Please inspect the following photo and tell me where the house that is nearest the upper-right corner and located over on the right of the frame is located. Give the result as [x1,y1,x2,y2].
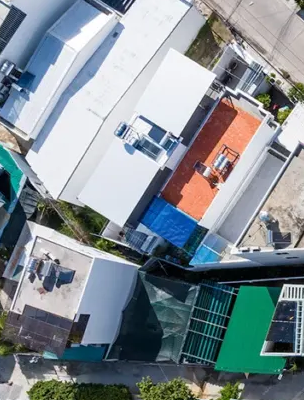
[211,43,270,101]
